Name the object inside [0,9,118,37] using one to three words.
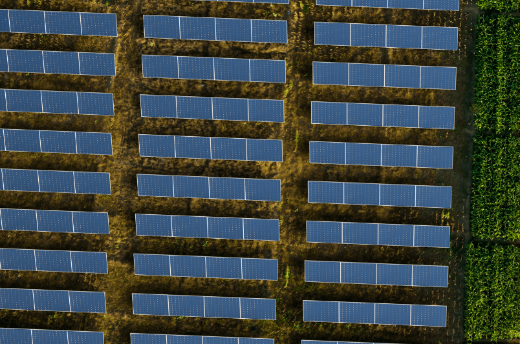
solar array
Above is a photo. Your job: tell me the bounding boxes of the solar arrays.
[0,9,118,37]
[307,222,450,249]
[132,295,277,322]
[317,0,460,11]
[304,302,447,328]
[310,142,453,169]
[0,90,115,116]
[140,95,285,123]
[0,329,104,344]
[315,22,458,51]
[313,63,457,91]
[309,182,452,210]
[134,254,279,281]
[312,102,455,130]
[142,55,287,84]
[135,215,280,242]
[137,175,282,203]
[0,49,116,77]
[143,15,288,44]
[305,261,449,289]
[0,249,108,274]
[0,169,112,196]
[0,289,107,314]
[139,135,283,162]
[0,129,113,155]
[130,334,275,344]
[0,209,110,235]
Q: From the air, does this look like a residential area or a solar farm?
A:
solar farm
